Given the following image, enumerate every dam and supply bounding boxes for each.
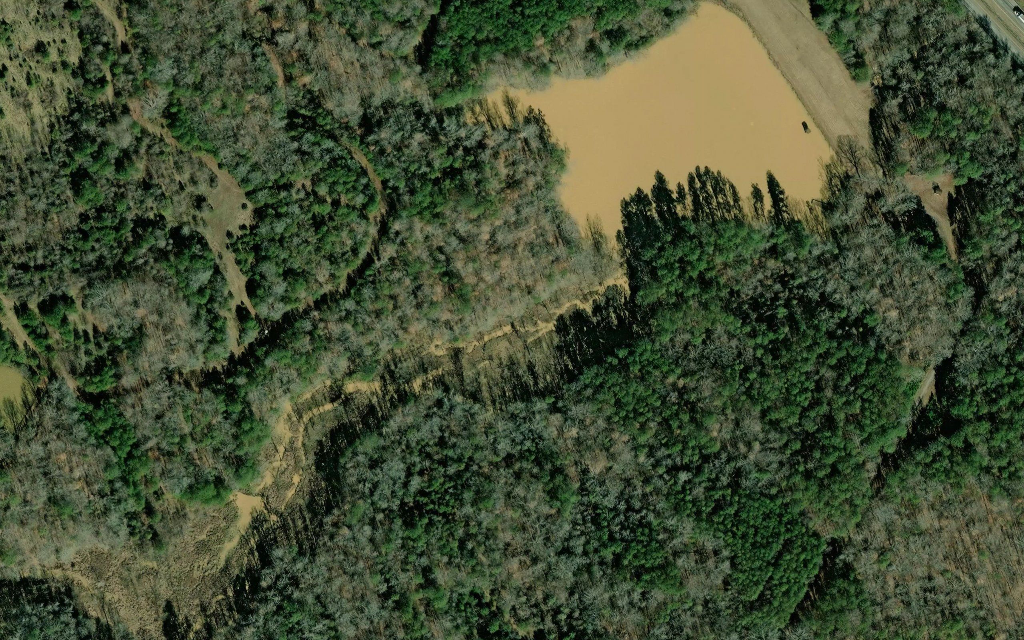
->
[713,0,875,178]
